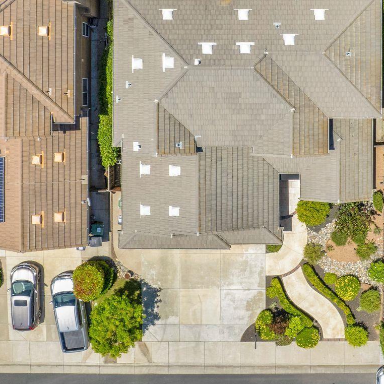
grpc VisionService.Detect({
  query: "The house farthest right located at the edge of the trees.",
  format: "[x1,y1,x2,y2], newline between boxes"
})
[111,0,384,252]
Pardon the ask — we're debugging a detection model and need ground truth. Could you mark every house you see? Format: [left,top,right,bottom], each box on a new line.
[111,0,384,252]
[0,0,108,253]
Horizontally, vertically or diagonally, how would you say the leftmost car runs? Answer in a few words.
vertically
